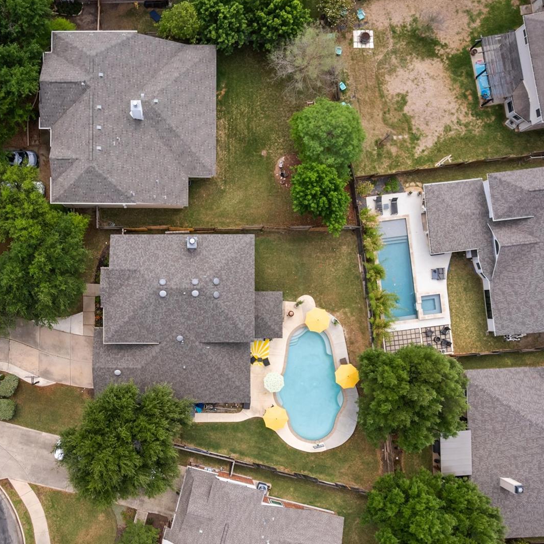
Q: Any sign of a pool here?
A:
Yes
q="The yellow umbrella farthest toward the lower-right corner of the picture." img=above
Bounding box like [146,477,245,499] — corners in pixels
[334,364,358,388]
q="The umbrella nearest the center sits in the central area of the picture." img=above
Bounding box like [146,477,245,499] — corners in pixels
[305,307,329,333]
